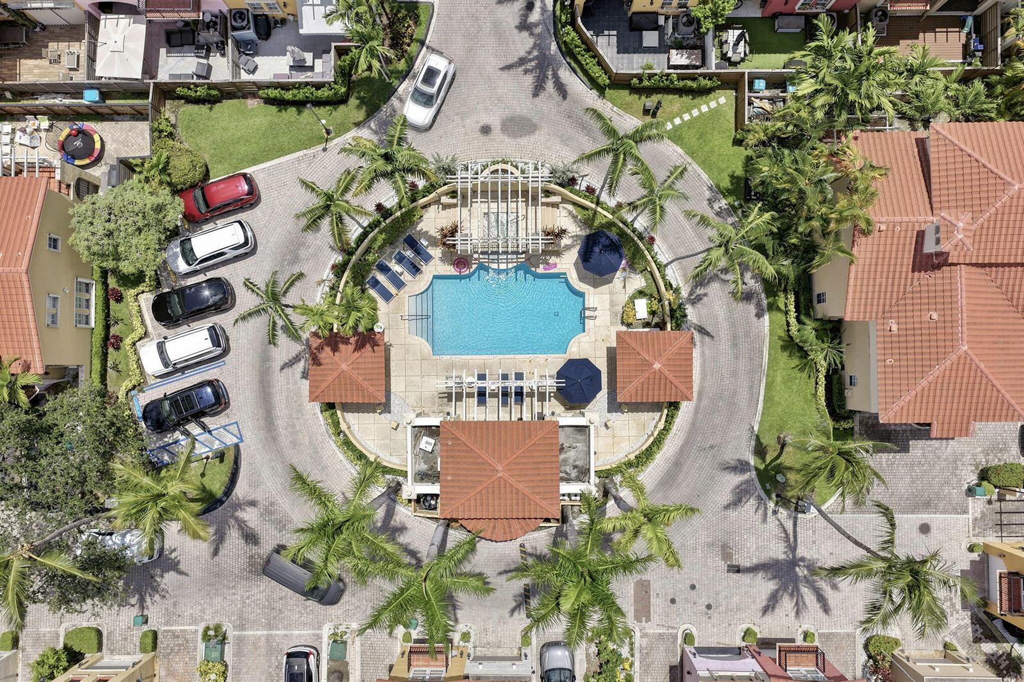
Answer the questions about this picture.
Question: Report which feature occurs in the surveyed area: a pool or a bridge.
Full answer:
This aerial view contains a pool.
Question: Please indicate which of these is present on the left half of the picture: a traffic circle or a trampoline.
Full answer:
What appears on the left half of the picture is a trampoline.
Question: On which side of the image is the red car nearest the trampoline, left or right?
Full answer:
It is on the left.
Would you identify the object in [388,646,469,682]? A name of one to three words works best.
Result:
house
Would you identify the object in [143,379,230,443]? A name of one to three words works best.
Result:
car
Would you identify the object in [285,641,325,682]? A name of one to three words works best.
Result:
car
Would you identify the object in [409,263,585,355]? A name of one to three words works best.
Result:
swimming pool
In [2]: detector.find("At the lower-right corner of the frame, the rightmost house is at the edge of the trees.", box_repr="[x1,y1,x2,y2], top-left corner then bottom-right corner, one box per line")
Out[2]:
[980,543,1024,622]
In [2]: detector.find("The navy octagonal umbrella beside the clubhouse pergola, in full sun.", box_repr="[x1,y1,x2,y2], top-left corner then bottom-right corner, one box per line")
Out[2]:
[555,358,600,403]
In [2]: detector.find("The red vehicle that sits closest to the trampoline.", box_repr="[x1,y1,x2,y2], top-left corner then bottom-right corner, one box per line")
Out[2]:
[177,174,260,225]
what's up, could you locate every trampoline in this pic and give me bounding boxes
[42,115,108,170]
